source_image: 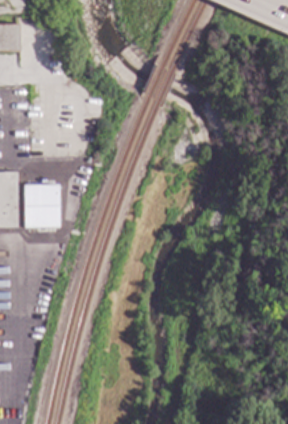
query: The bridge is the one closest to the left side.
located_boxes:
[142,61,181,107]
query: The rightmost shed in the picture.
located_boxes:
[23,184,61,233]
